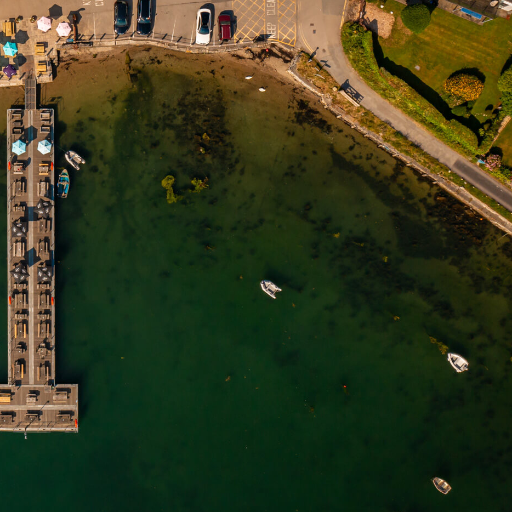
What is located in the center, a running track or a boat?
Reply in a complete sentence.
It is a boat that can be seen in the center.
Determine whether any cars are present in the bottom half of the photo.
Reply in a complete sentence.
No, there is no car in the bottom half of the photo.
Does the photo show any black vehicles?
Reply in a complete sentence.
Yes, you can see a black vehicle in this photo.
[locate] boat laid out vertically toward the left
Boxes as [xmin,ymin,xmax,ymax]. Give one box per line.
[57,170,69,197]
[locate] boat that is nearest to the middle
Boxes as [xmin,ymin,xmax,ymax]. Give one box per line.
[263,281,282,299]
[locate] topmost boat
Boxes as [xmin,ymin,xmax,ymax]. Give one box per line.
[66,151,86,171]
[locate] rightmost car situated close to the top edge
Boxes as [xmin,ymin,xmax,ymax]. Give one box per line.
[217,12,234,45]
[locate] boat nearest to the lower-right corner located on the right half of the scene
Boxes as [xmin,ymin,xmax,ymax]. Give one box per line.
[435,479,453,497]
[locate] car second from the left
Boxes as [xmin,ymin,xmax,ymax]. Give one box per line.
[136,0,154,34]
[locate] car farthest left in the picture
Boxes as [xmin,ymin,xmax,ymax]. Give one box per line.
[114,1,131,36]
